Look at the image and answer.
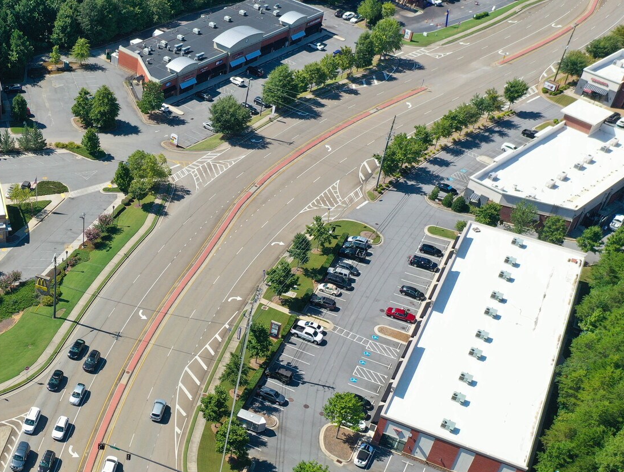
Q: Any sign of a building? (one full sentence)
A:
Yes, the image includes a building.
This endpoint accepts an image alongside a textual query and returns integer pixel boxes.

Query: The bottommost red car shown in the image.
[387,309,415,323]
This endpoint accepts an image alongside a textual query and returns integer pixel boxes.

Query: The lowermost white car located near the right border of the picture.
[610,213,624,229]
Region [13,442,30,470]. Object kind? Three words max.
car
